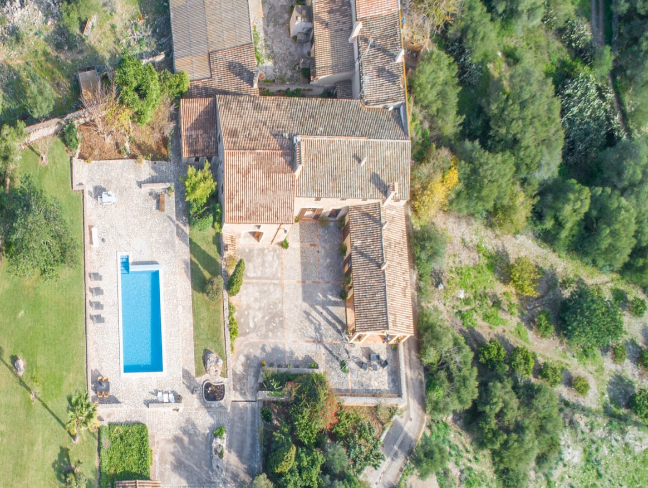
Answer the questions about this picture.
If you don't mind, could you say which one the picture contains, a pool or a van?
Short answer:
pool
